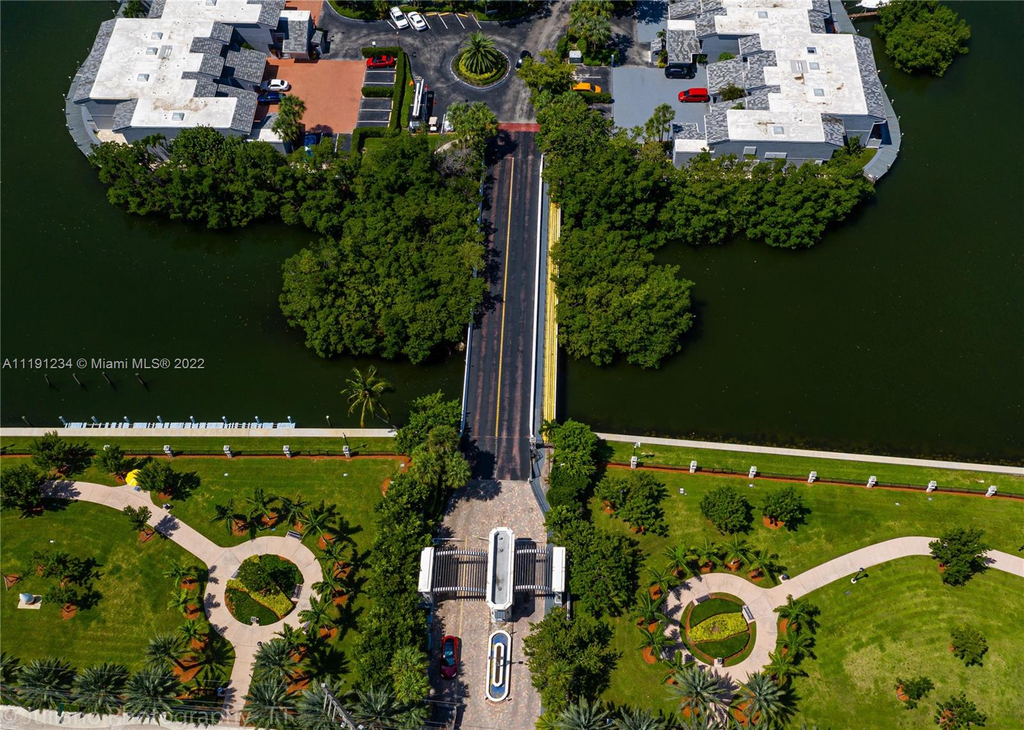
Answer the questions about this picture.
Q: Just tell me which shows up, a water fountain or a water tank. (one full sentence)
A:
Of the two, only a water fountain appears.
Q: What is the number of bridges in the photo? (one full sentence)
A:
The picture shows 1 bridge.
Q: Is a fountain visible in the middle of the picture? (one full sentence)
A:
No, looking in the middle of the picture, there is no fountain.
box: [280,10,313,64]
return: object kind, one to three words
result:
building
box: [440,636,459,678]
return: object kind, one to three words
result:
car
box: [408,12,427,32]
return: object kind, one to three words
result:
car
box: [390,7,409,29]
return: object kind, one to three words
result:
vehicle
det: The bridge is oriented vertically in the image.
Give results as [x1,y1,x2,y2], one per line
[460,131,563,457]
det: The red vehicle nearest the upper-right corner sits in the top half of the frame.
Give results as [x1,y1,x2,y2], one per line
[678,89,707,104]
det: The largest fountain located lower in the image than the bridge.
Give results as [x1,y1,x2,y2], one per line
[487,630,511,704]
